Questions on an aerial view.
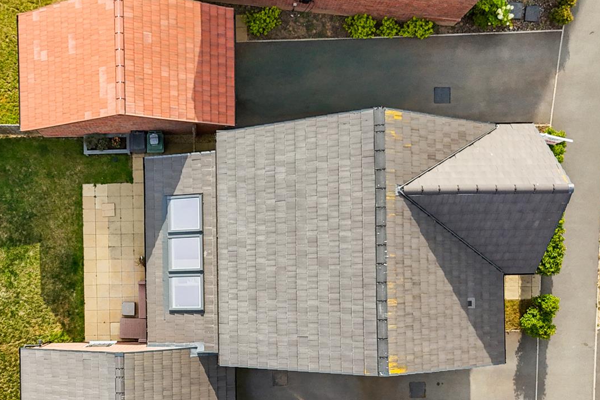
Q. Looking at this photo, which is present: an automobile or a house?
house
